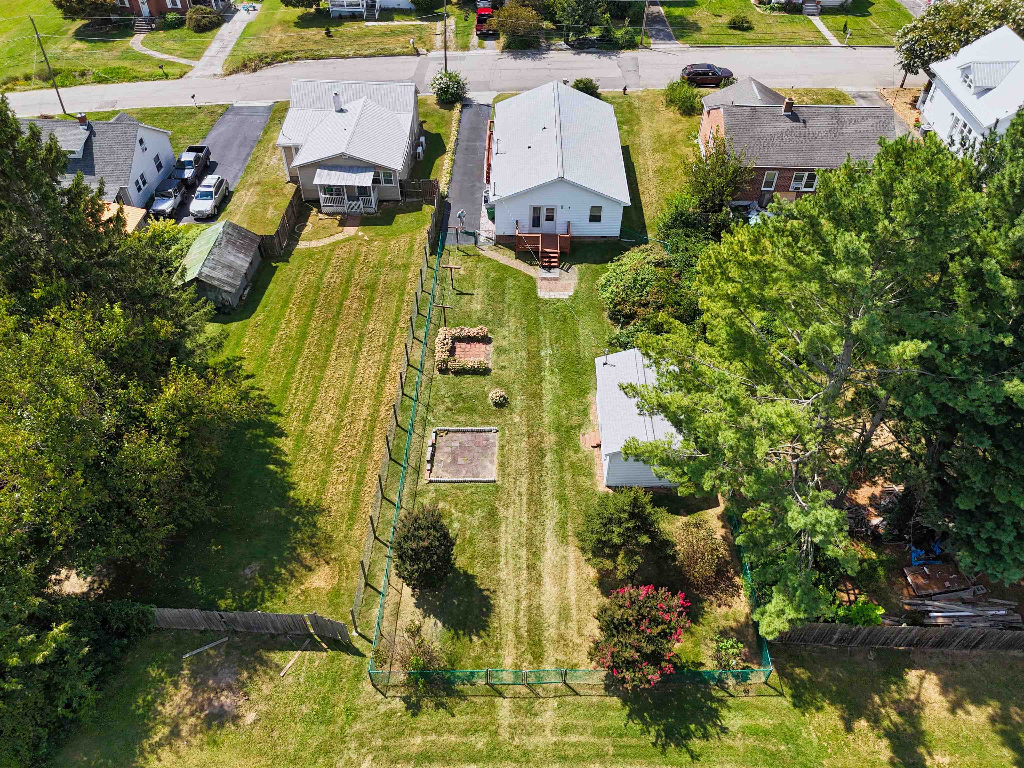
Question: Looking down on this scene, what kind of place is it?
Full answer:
It's a residential area.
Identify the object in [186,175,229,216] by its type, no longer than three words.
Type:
car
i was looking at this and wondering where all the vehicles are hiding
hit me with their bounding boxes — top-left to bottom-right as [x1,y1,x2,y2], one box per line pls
[683,61,741,88]
[477,4,501,32]
[166,148,210,186]
[140,179,186,223]
[186,175,229,216]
